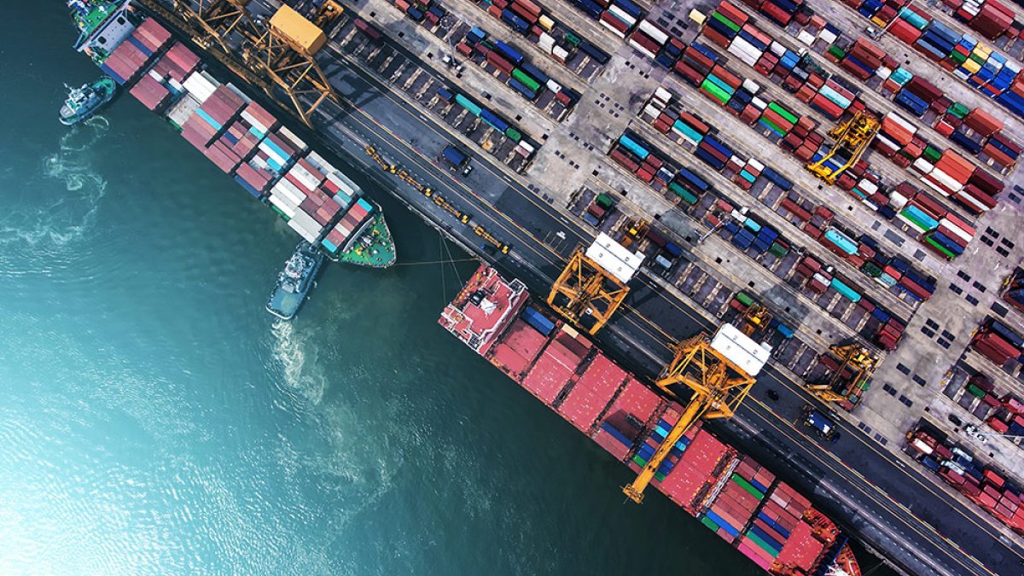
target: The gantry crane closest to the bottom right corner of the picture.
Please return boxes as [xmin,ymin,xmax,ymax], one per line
[804,343,879,403]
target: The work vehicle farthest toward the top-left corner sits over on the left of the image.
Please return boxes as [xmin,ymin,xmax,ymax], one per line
[361,145,399,175]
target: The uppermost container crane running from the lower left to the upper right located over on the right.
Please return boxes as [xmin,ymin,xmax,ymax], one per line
[805,112,879,185]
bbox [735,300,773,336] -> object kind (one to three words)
container crane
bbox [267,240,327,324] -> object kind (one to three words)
boat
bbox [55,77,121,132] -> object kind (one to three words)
boat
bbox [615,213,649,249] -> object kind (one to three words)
container crane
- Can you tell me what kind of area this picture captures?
port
